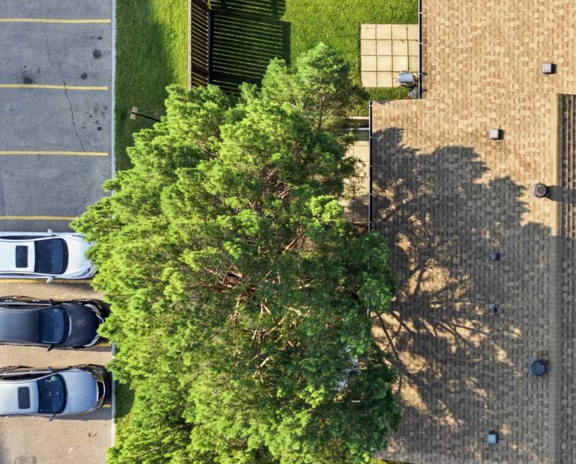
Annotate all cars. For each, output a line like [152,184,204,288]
[0,299,104,357]
[0,364,108,425]
[0,227,98,286]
